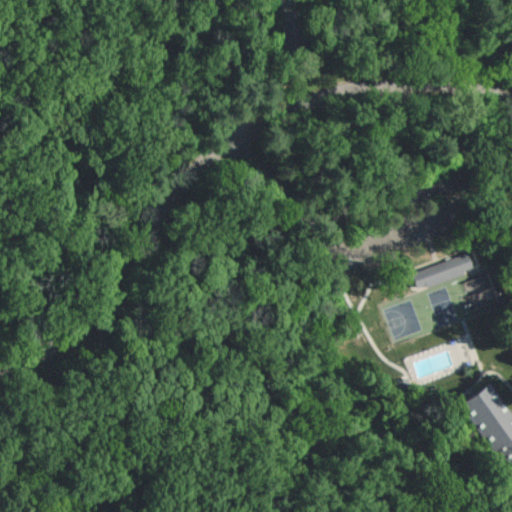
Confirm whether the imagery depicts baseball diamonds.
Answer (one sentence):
No, I can't see a single baseball diamond in this photo.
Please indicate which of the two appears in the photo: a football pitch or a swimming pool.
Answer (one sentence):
There is a swimming pool in the scene.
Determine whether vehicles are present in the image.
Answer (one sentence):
No, there isn't any vehicle down there.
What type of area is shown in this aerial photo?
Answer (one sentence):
This looks like a forest.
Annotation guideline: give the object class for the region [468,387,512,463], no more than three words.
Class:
building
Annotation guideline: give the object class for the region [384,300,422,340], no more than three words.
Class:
basketball court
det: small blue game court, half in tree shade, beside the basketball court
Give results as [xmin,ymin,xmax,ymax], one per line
[428,288,455,320]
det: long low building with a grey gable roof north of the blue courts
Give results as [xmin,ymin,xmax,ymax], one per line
[419,254,475,288]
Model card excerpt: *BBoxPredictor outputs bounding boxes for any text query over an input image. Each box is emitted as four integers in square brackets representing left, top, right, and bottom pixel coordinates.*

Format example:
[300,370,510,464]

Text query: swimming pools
[404,343,476,384]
